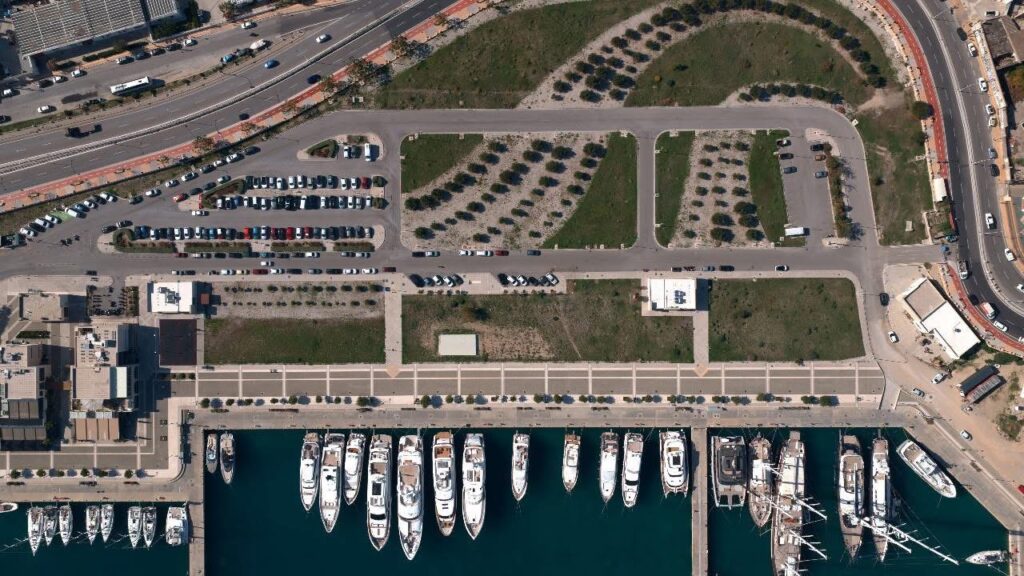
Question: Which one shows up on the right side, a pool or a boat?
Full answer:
Looking on the right side, you will find a boat.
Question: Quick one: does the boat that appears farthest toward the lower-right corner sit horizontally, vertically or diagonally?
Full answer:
Seen from above, the boat that appears farthest toward the lower-right corner lies horizontally.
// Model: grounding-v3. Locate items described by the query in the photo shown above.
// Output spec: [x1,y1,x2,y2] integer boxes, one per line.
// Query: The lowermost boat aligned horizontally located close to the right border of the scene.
[965,549,1019,574]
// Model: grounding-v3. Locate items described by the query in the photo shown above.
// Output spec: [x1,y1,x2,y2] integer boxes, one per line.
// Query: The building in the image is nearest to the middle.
[647,279,696,310]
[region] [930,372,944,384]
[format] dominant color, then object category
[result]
white vehicle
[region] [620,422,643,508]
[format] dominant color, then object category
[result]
white boat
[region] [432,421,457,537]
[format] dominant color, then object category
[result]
white boat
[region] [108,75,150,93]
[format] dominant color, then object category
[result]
white vehicle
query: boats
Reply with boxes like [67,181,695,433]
[597,421,619,503]
[0,500,44,556]
[20,499,58,546]
[64,500,101,544]
[749,429,788,527]
[0,503,18,513]
[343,422,366,505]
[149,497,189,546]
[510,424,530,501]
[36,500,74,546]
[396,424,425,561]
[299,422,321,511]
[220,422,236,484]
[109,500,143,548]
[660,421,689,498]
[871,428,958,563]
[462,432,487,540]
[770,431,827,576]
[367,424,395,552]
[562,423,581,492]
[620,422,643,508]
[837,425,910,559]
[320,423,346,533]
[79,498,115,542]
[711,426,755,507]
[206,433,218,473]
[125,500,157,550]
[965,549,1019,574]
[432,421,457,537]
[895,439,956,498]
